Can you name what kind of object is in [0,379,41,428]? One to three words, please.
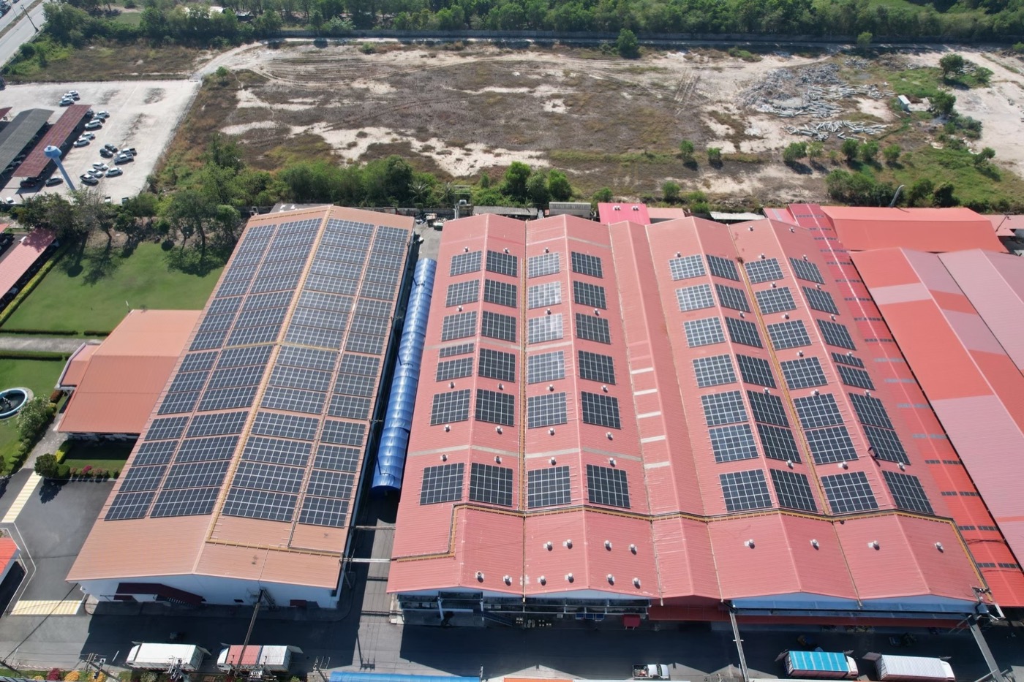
fountain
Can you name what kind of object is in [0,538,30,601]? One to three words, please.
building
